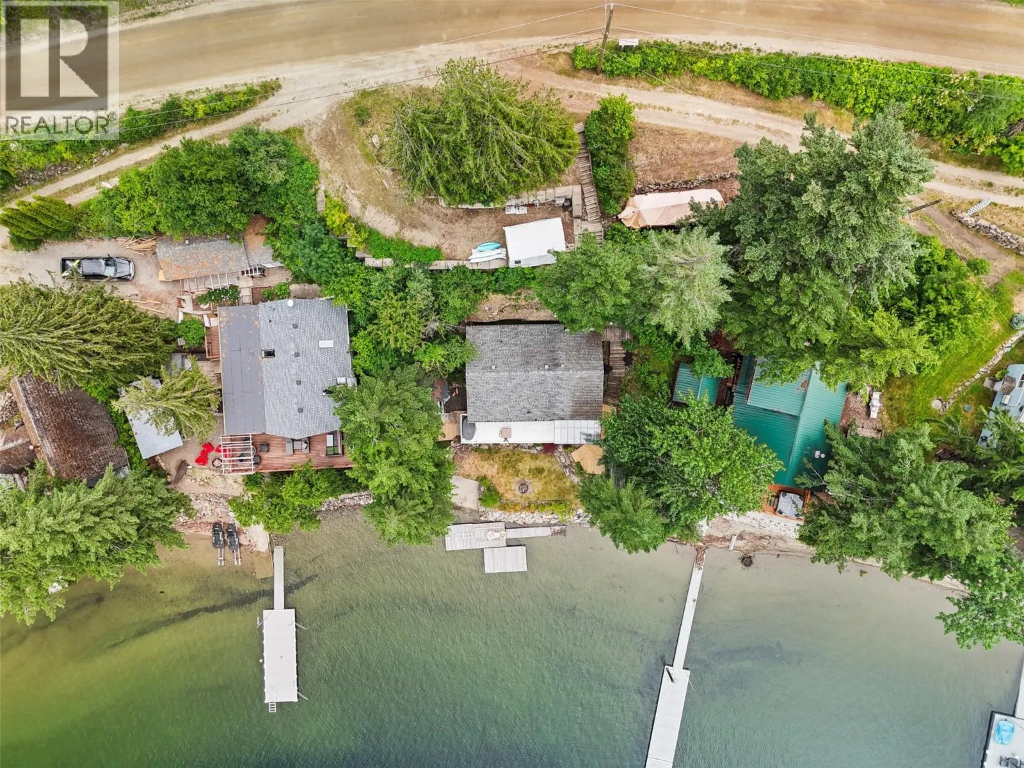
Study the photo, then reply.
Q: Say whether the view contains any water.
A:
Yes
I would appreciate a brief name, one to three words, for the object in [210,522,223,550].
boat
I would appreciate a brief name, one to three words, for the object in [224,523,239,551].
boat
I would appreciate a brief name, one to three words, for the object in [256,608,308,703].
pier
